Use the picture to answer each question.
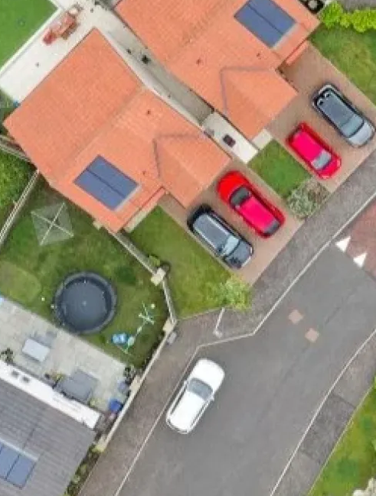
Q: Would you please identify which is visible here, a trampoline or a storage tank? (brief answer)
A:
trampoline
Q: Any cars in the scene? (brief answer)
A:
Yes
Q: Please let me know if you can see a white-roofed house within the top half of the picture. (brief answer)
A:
No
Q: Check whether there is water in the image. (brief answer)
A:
No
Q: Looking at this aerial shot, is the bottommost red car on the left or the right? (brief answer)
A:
right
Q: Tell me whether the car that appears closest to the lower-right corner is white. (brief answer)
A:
Yes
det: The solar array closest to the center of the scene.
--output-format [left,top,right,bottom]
[72,155,145,214]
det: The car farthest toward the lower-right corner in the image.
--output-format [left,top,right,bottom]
[167,355,223,437]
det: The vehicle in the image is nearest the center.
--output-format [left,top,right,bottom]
[182,202,257,273]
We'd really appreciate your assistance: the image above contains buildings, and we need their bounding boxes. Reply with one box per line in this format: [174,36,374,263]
[113,0,322,140]
[0,359,103,496]
[3,26,234,235]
